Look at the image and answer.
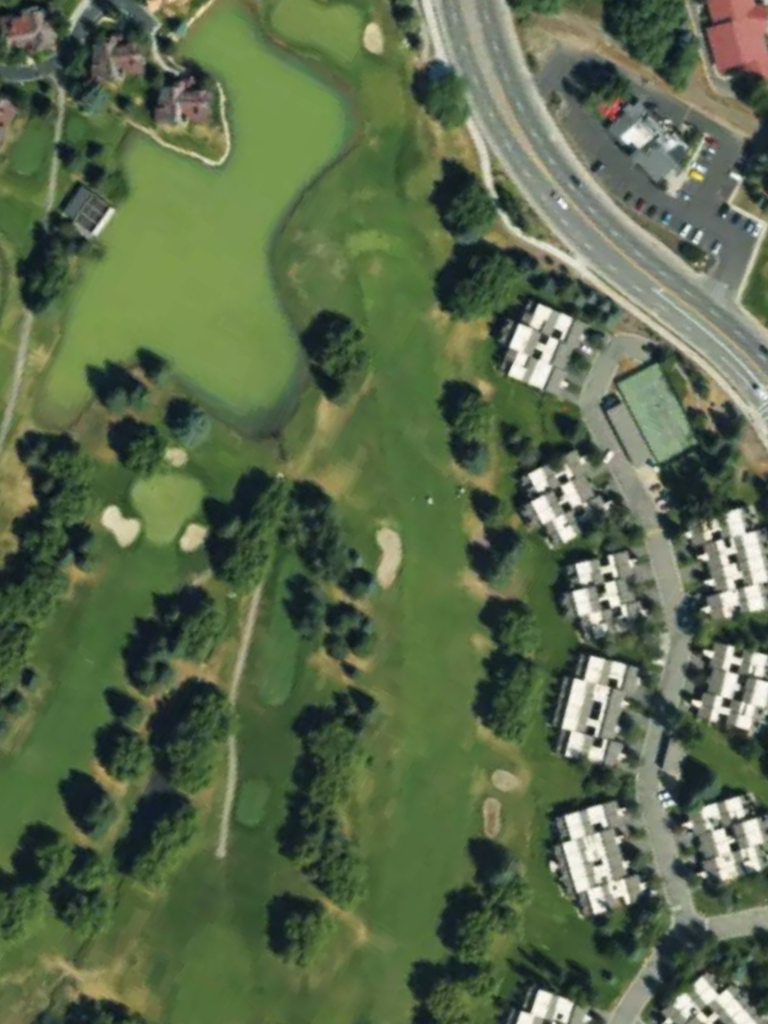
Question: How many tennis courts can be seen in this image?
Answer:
1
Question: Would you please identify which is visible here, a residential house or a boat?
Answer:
residential house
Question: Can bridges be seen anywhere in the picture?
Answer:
No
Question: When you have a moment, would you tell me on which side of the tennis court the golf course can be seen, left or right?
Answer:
left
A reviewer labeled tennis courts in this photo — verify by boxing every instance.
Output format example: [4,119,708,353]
[618,364,697,464]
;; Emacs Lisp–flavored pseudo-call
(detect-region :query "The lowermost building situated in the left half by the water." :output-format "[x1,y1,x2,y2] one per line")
[63,184,116,234]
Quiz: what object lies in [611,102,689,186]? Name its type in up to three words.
building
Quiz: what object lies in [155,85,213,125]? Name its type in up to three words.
house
